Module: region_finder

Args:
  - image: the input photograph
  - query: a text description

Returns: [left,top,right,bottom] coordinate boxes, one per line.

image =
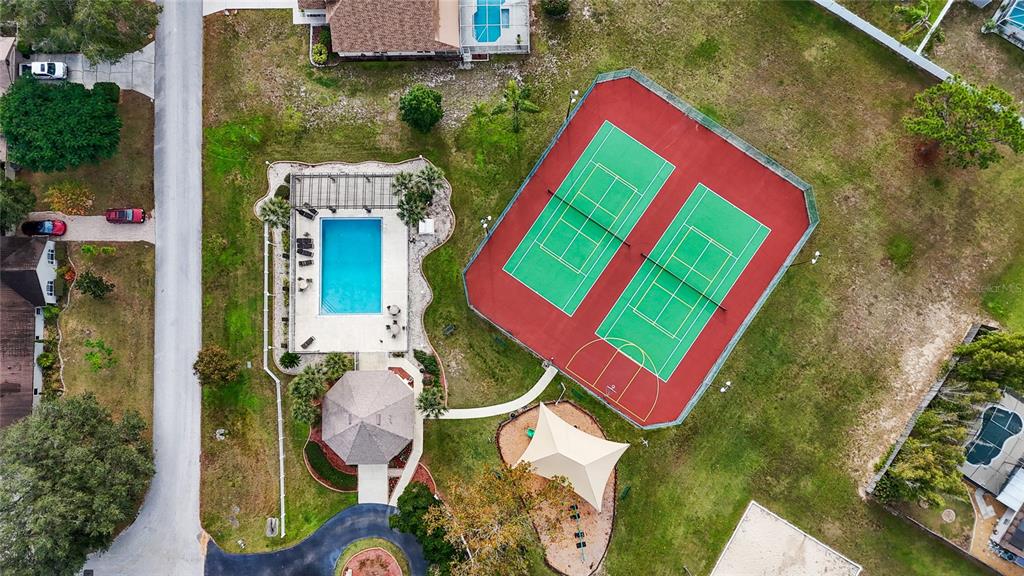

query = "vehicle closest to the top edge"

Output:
[19,61,68,81]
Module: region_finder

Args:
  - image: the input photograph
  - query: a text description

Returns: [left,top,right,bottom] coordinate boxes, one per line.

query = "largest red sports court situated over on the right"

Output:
[464,75,810,427]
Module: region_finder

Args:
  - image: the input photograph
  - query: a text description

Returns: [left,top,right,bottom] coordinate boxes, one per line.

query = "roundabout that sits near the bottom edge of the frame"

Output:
[205,503,436,576]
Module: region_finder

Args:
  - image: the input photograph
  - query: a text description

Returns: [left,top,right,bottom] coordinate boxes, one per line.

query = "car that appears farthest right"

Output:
[104,208,144,226]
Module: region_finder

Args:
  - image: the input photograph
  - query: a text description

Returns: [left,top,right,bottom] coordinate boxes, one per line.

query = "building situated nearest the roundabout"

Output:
[322,371,415,465]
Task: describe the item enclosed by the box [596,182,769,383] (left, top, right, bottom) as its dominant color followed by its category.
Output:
green tennis court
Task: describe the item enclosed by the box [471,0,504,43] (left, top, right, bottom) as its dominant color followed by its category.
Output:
blue swimming pool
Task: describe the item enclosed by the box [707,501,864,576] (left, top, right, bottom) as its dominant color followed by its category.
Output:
white sports court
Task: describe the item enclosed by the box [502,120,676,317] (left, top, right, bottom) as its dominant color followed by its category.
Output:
green tennis court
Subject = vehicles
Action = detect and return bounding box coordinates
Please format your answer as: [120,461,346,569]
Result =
[19,61,68,81]
[104,208,144,226]
[19,219,63,237]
